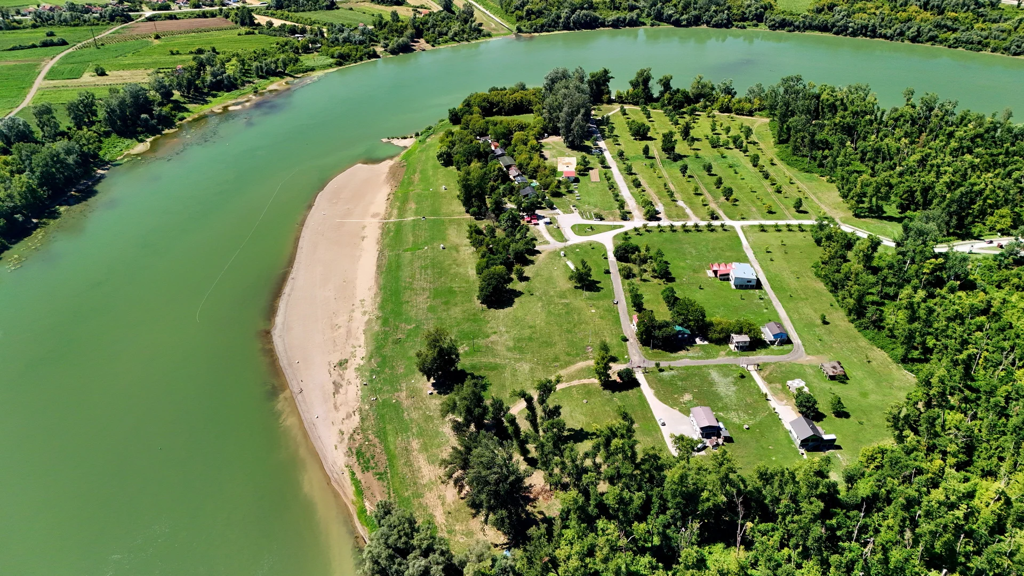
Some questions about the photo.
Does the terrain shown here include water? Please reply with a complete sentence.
Yes, the picture does contain water.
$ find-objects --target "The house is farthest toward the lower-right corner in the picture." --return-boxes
[788,417,836,455]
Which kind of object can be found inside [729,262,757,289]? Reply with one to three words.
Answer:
house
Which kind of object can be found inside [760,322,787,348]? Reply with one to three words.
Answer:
house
